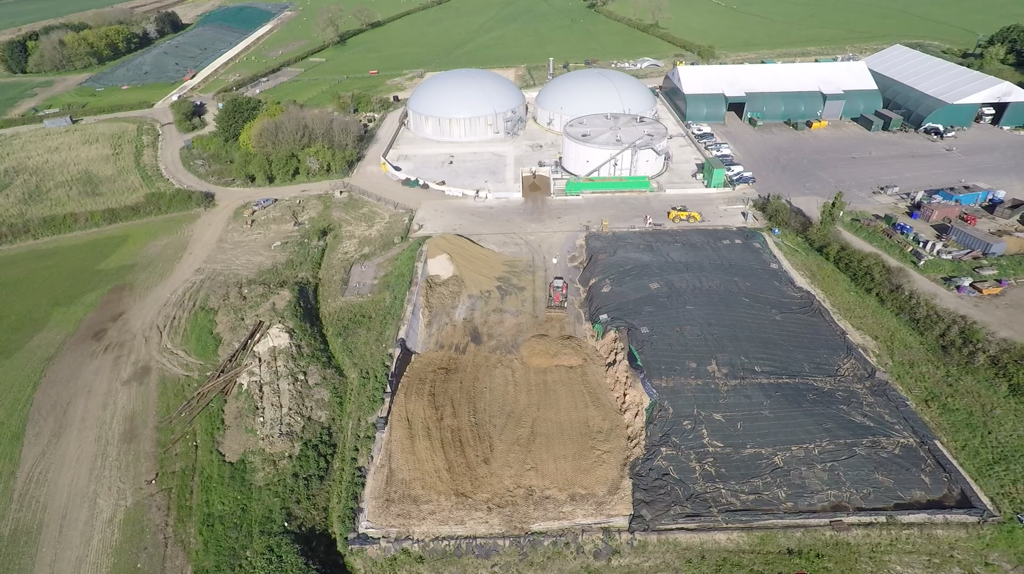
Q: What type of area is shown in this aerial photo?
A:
industrial area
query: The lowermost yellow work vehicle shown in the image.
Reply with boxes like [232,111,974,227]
[670,204,706,225]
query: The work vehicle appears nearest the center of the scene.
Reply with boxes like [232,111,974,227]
[547,270,571,310]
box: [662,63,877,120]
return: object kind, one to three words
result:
shed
